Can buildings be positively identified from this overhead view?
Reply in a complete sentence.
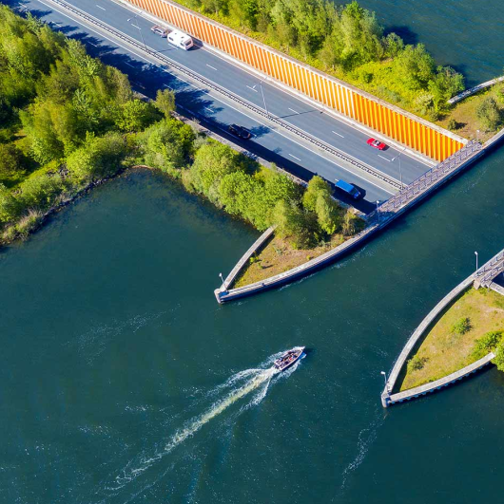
No, the frame has no building in it.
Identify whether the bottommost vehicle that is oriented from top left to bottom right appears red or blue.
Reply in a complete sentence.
From above, the bottommost vehicle that is oriented from top left to bottom right appears blue.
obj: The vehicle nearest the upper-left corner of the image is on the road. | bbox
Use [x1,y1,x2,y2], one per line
[152,26,170,38]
